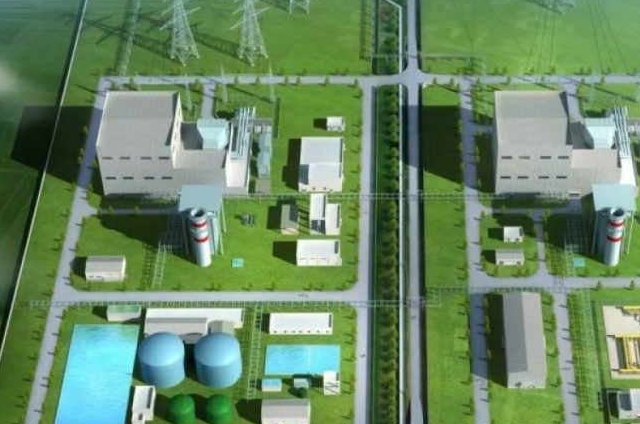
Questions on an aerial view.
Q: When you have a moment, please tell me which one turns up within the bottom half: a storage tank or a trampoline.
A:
storage tank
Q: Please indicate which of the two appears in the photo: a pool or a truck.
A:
pool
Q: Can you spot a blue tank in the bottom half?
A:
Yes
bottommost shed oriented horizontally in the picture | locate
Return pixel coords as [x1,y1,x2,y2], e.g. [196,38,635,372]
[259,400,310,424]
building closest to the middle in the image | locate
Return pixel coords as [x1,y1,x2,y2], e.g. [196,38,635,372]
[308,196,342,236]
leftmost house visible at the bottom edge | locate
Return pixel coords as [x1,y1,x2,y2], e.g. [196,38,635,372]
[131,382,157,424]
